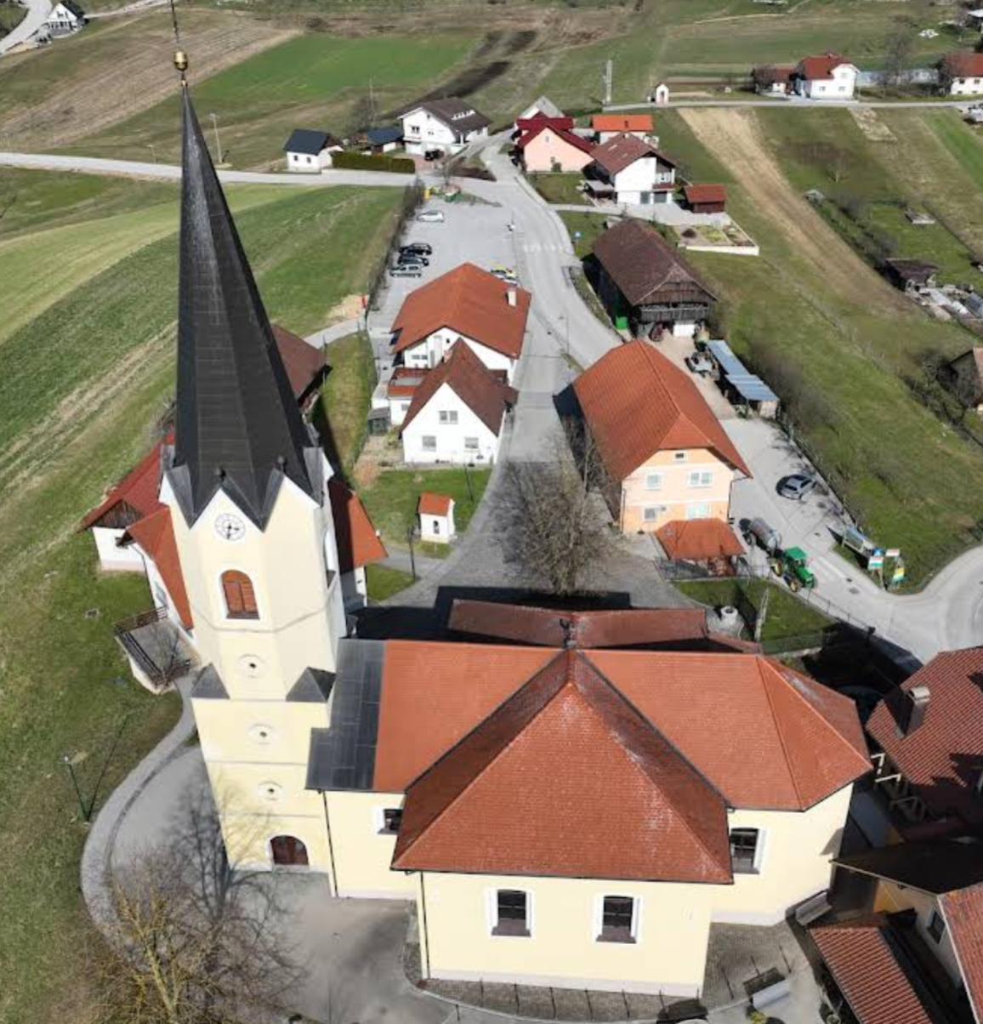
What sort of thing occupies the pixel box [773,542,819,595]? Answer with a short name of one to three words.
work vehicle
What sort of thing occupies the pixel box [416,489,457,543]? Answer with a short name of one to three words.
building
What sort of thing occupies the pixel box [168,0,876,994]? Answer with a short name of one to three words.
church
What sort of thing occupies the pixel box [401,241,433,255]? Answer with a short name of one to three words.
car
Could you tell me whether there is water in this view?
No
